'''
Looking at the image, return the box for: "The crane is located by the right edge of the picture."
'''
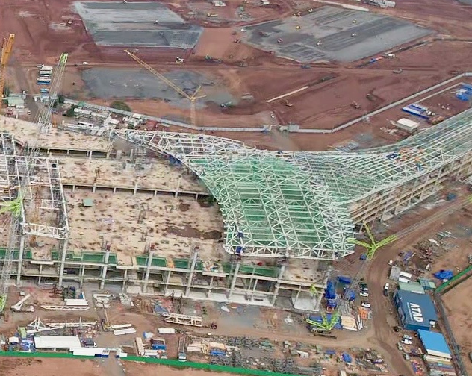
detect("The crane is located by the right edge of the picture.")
[308,193,472,338]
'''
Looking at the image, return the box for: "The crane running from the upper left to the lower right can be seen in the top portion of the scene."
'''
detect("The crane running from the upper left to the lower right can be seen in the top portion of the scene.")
[124,49,206,133]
